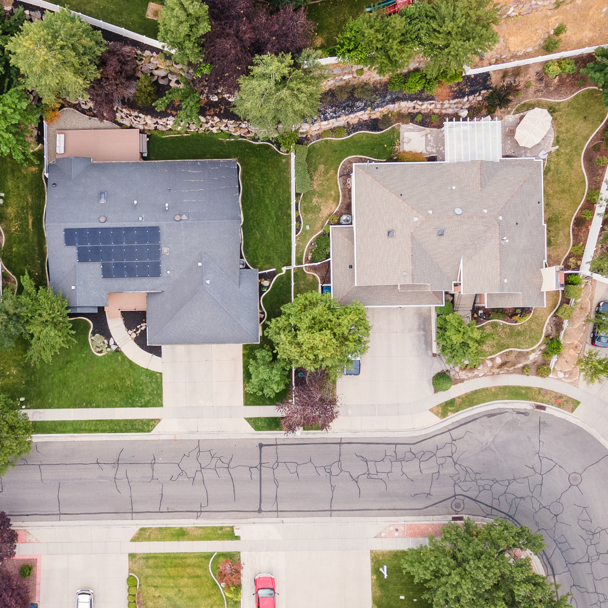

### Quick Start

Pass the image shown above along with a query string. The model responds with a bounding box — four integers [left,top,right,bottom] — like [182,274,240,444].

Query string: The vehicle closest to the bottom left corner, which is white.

[75,588,93,608]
